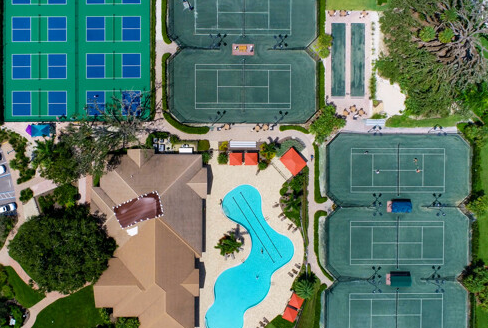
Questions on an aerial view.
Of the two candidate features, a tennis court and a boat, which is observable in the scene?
tennis court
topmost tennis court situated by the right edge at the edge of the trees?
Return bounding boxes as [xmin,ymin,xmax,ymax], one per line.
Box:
[328,133,471,207]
